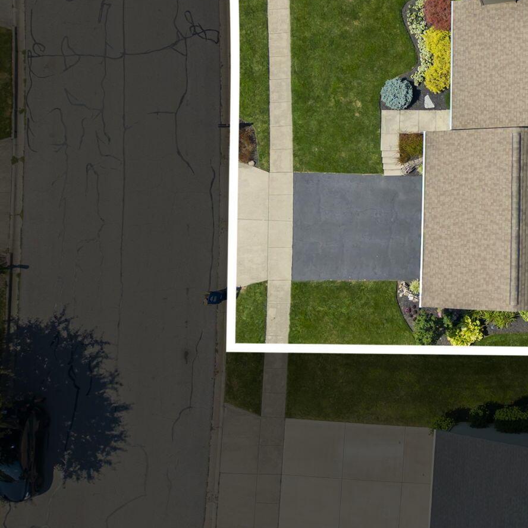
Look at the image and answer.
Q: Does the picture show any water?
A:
No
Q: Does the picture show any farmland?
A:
No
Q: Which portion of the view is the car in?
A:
bottom left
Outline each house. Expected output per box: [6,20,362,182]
[427,419,528,528]
[417,0,528,313]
